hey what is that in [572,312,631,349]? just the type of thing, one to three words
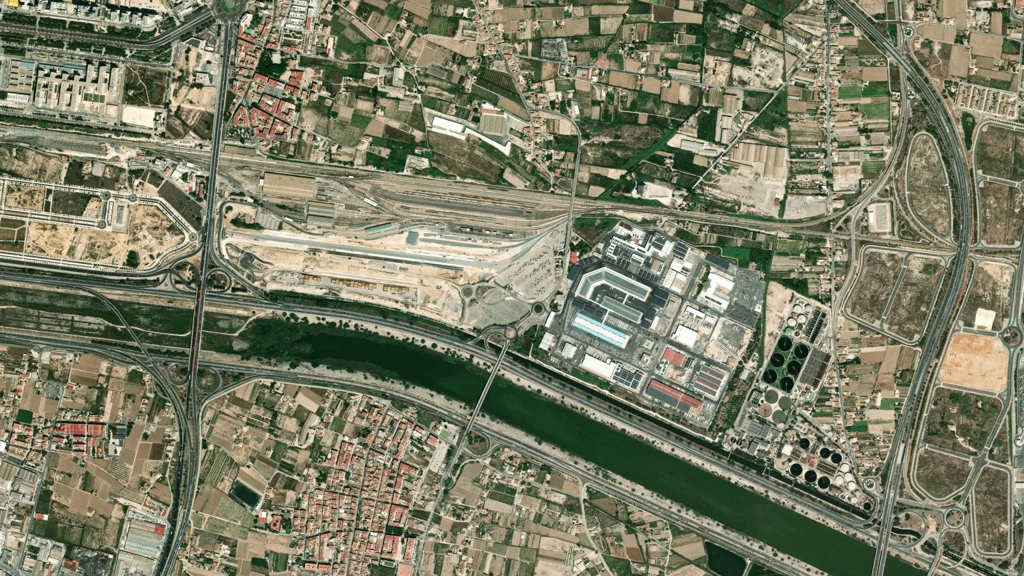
building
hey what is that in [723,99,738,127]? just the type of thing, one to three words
shed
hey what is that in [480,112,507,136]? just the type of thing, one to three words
shed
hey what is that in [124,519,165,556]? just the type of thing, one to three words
building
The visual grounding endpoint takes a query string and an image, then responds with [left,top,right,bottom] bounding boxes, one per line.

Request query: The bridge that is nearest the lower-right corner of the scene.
[868,488,897,576]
